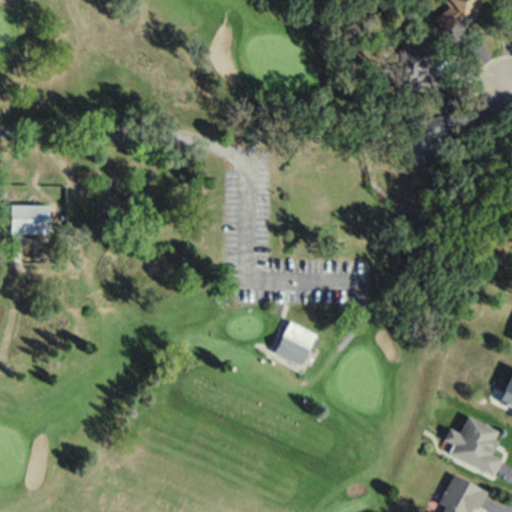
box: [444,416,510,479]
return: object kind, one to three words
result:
house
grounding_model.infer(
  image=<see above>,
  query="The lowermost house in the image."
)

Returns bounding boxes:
[436,476,488,512]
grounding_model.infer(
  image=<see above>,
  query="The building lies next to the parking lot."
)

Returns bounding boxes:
[274,320,320,367]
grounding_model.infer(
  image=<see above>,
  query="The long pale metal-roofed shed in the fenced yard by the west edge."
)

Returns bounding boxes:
[10,205,50,235]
